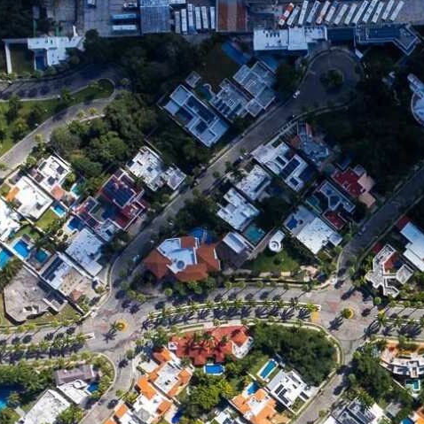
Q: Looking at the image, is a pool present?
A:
Yes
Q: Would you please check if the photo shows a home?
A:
Yes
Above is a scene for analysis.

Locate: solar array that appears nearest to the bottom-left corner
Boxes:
[41,256,64,282]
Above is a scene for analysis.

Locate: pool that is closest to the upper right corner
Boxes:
[254,51,282,70]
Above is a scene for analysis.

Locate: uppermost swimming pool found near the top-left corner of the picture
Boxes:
[34,51,47,70]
